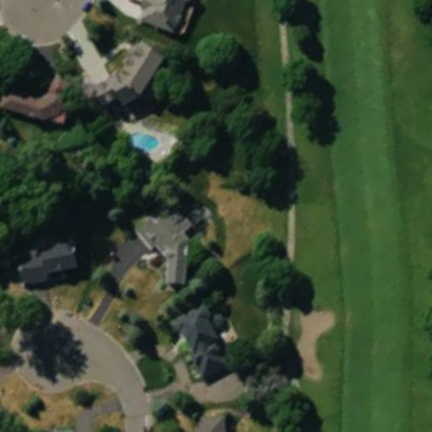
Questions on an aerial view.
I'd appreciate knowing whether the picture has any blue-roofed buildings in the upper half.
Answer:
No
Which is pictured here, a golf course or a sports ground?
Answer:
golf course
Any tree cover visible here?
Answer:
Yes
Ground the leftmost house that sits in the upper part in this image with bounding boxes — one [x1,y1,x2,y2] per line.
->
[0,71,66,124]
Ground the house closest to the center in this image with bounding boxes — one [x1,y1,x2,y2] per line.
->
[136,214,191,284]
